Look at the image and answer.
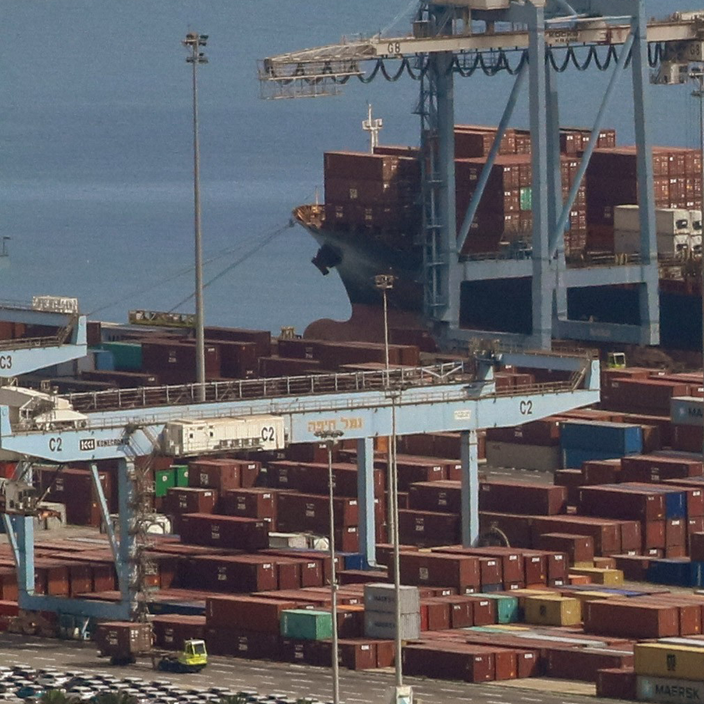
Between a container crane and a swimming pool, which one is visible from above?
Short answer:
container crane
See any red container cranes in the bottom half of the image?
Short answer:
No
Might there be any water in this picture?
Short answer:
Yes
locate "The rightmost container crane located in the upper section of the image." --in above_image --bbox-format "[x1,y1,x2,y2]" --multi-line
[256,0,704,356]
